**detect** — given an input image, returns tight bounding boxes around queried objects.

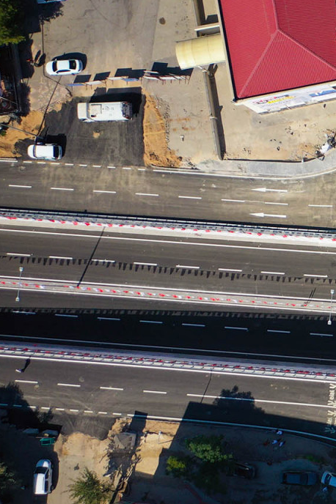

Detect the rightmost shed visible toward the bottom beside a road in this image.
[112,431,141,450]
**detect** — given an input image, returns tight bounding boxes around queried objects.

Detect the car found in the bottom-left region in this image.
[32,458,54,495]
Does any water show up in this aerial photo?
No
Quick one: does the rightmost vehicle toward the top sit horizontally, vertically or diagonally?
horizontally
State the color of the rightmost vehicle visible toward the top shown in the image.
white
